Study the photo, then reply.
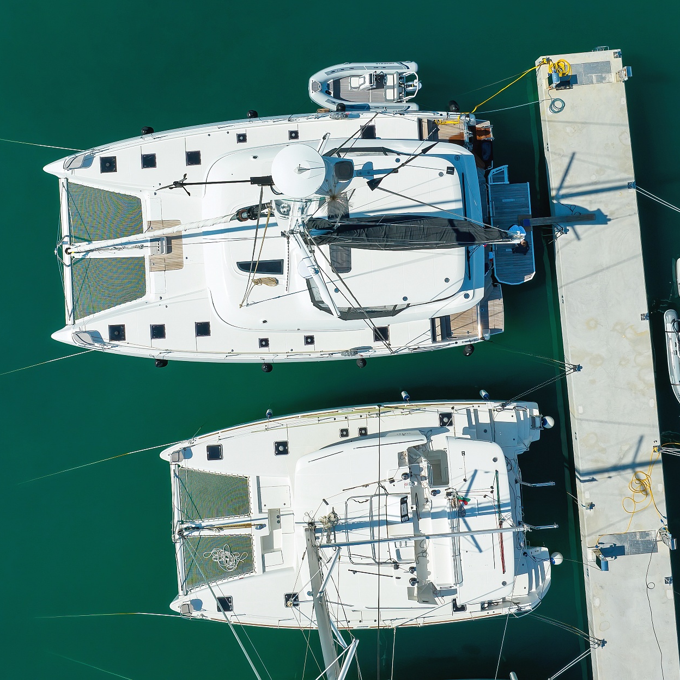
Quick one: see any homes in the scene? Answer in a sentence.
No, this view has no home in it.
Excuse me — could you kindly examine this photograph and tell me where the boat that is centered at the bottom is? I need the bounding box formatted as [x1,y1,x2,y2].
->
[160,389,558,680]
